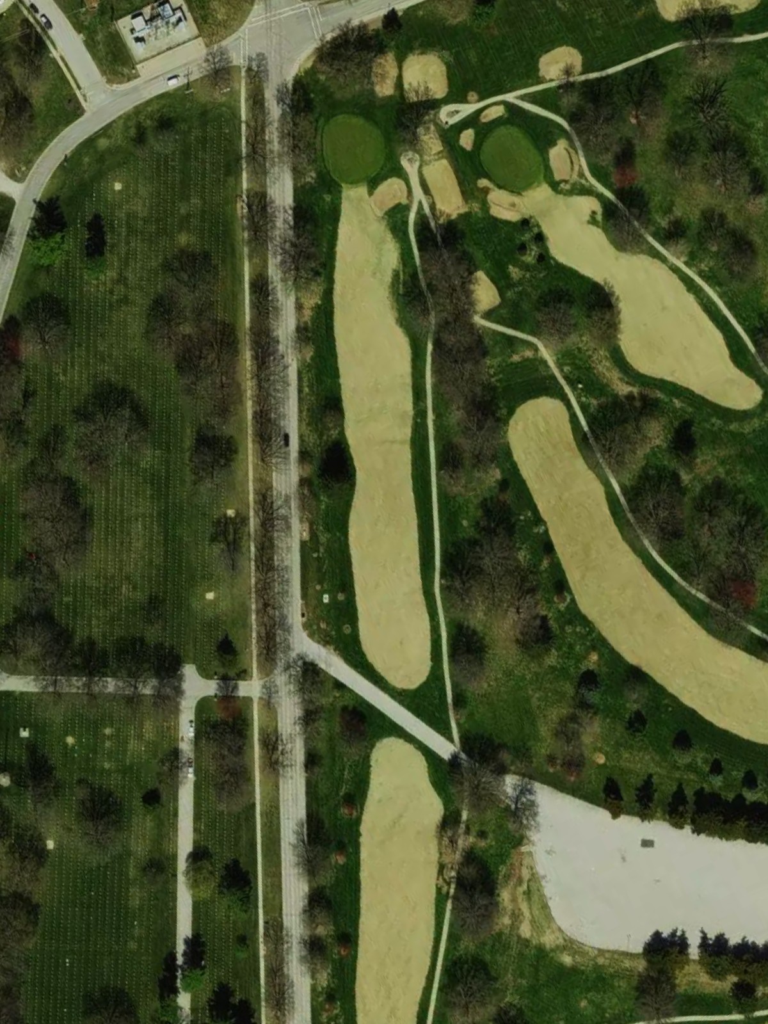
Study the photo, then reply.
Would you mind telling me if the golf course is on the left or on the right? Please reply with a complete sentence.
You can find the golf course on the right side of the picture.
